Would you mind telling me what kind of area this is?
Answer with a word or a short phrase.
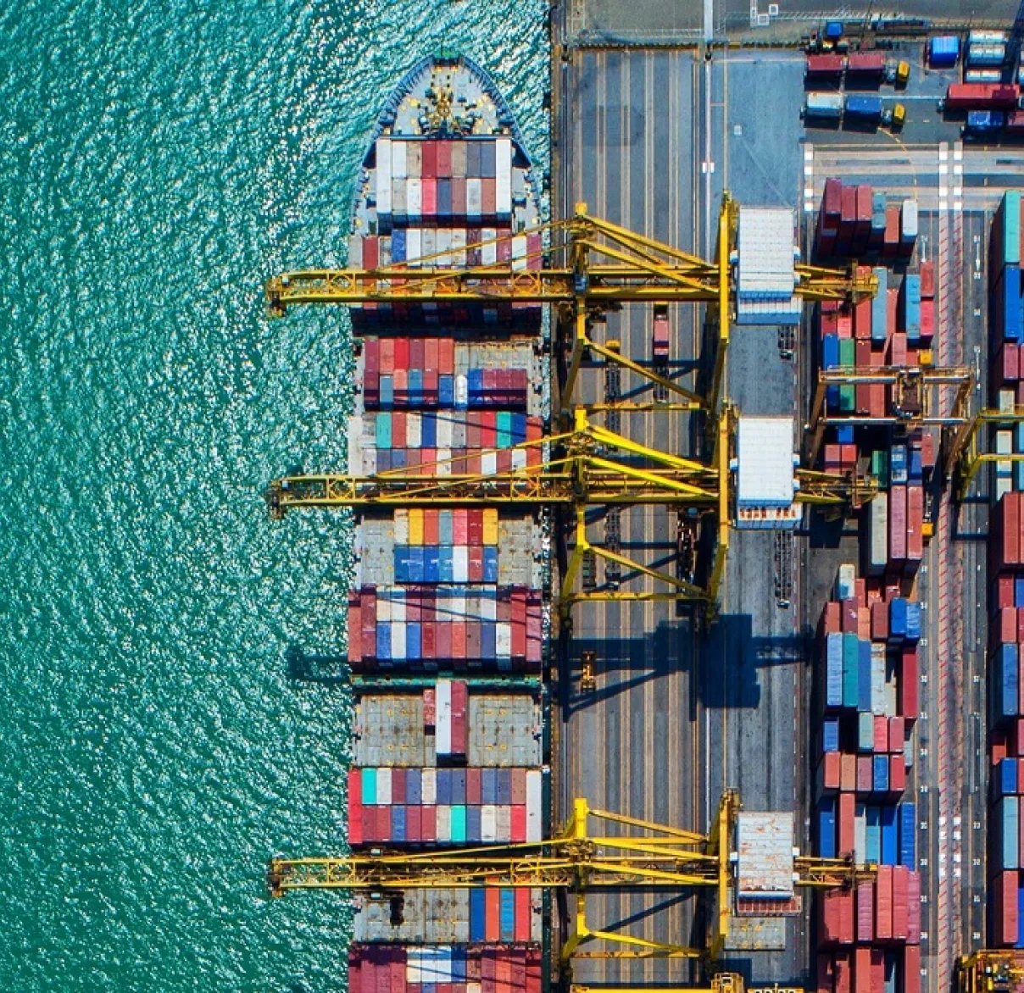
port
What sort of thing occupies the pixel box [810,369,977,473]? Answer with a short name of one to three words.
container crane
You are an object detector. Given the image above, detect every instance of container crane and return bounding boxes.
[810,369,977,473]
[266,188,880,432]
[957,947,1024,993]
[961,406,1024,507]
[266,394,880,620]
[1005,0,1024,82]
[266,783,880,975]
